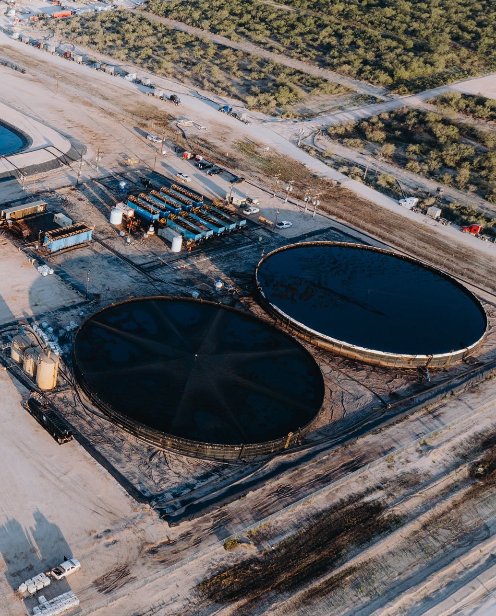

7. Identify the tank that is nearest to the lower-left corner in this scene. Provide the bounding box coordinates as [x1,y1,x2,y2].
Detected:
[25,392,69,442]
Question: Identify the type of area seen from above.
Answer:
industrial area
